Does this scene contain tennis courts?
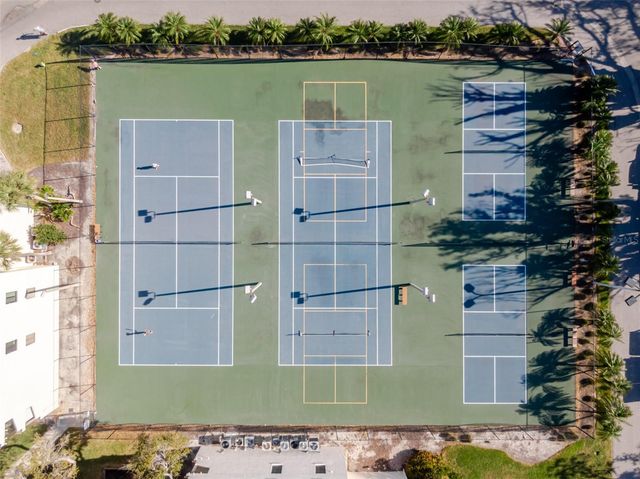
Yes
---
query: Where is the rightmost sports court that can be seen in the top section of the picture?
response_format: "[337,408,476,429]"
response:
[462,81,526,221]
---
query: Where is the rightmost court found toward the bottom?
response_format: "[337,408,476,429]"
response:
[462,265,526,405]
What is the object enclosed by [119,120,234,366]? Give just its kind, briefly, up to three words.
tennis court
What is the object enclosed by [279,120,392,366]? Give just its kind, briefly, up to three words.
tennis court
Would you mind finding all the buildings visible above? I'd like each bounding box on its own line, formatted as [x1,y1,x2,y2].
[0,203,59,444]
[182,446,350,479]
